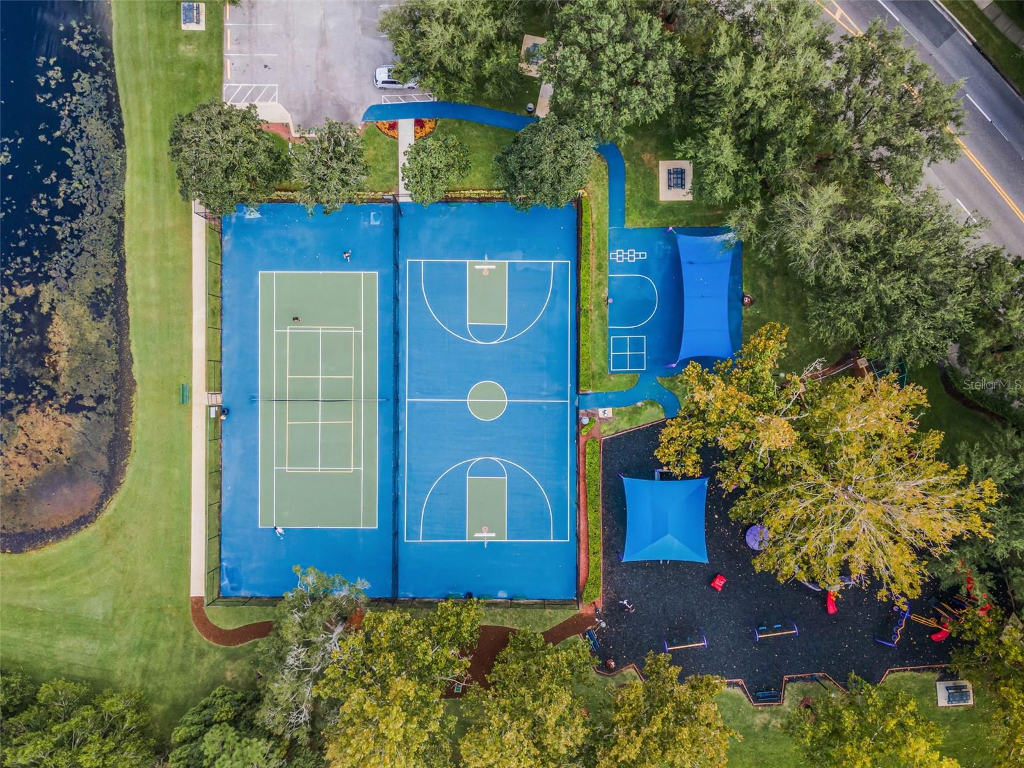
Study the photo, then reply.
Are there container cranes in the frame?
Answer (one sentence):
No, I can't see a single container crane in this photo.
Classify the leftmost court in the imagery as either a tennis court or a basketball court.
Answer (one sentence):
I'd identify the leftmost court as a tennis court.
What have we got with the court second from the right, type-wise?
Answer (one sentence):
From above, the court second from the right can be identified as a basketball court.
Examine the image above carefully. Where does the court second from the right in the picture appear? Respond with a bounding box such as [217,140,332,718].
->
[395,203,577,598]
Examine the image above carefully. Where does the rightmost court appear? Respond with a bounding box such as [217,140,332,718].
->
[609,227,742,374]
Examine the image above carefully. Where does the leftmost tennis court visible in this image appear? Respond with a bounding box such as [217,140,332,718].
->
[220,203,398,598]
